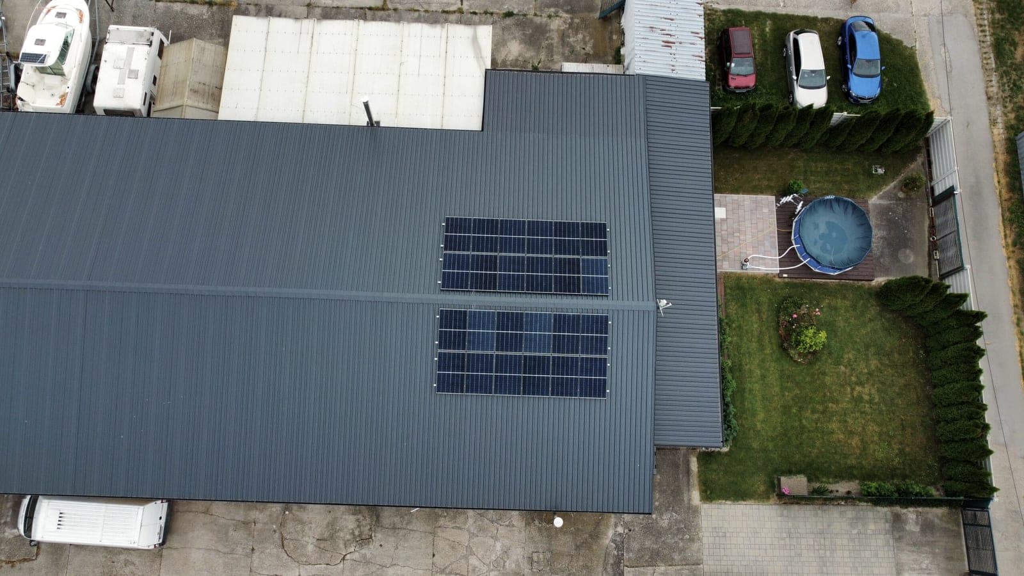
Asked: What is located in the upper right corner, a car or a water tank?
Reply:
car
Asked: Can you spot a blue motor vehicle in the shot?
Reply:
Yes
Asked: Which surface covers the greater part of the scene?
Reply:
buildings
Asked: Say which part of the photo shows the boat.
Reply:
top left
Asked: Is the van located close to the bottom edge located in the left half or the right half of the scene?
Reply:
left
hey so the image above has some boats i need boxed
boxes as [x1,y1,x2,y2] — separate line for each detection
[19,0,90,112]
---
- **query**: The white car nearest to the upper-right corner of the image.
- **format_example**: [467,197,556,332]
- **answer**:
[782,33,832,111]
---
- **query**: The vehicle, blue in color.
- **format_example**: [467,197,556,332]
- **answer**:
[837,17,887,102]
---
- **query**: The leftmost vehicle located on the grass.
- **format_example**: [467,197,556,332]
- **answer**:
[715,24,757,94]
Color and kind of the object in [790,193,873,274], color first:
blue swimming pool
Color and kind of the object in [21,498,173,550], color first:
white van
